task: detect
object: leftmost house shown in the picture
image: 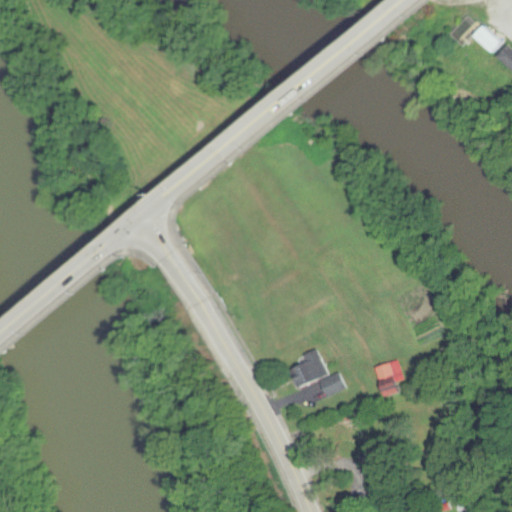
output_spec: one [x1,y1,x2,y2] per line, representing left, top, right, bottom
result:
[292,348,328,387]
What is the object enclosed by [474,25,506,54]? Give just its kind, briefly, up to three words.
building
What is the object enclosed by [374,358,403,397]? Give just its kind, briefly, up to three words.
barn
